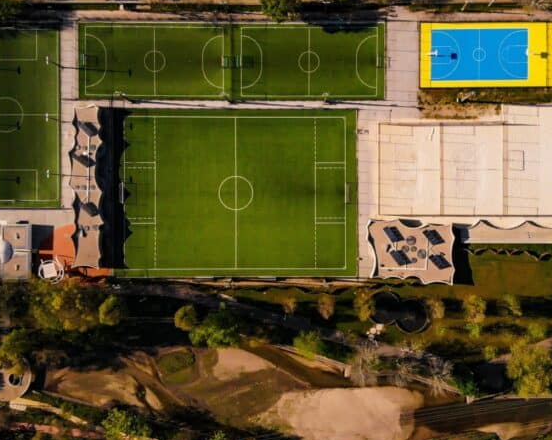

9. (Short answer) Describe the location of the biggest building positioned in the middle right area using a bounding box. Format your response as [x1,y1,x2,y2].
[368,219,455,286]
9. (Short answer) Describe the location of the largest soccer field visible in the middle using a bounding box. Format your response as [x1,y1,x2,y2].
[113,110,356,277]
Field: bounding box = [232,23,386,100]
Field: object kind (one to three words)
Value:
soccer field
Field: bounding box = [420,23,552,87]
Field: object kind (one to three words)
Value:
basketball court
